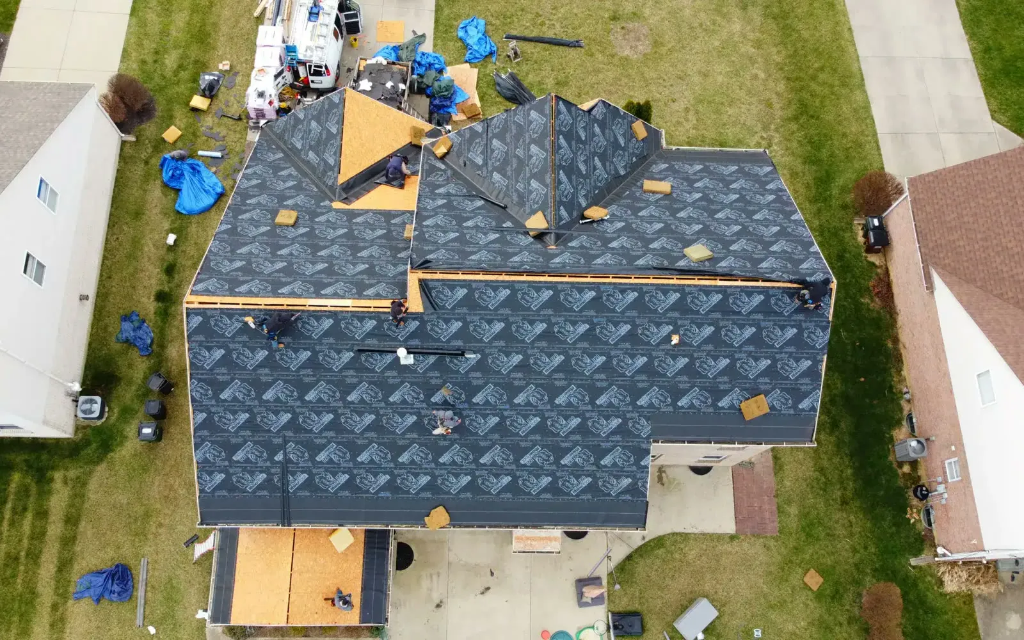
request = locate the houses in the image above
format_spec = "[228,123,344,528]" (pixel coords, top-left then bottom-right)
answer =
[185,89,835,553]
[0,82,125,440]
[883,144,1024,558]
